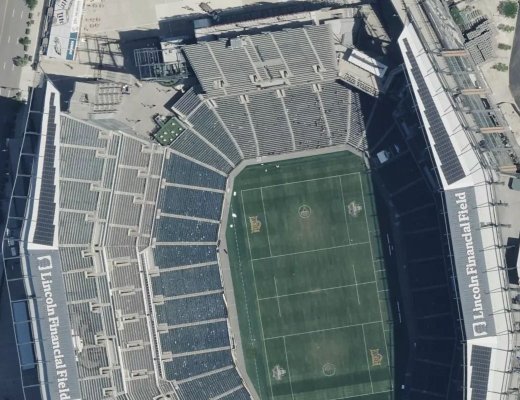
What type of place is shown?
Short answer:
sports ground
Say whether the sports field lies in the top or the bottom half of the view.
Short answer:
bottom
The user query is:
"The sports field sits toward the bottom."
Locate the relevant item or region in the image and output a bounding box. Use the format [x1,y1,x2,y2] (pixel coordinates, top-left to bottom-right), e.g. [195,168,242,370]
[219,144,420,400]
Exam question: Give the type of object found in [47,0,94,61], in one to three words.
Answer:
building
